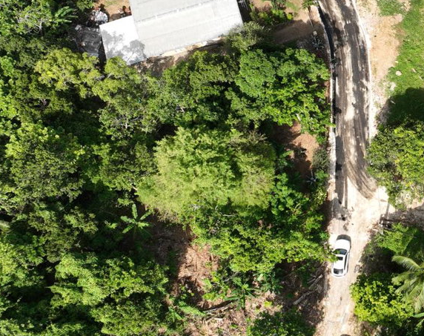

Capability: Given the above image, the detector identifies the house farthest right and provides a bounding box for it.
[95,0,248,68]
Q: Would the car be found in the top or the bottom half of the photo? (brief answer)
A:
bottom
